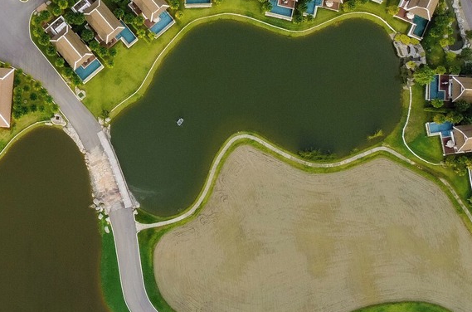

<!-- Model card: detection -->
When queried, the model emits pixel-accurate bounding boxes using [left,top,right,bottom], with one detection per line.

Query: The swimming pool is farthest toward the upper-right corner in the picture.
[406,13,432,39]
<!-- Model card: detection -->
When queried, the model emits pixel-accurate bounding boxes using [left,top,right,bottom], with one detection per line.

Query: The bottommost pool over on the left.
[76,58,105,84]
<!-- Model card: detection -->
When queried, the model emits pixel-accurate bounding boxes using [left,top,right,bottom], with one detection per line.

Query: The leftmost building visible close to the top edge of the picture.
[41,16,98,70]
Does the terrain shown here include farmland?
Yes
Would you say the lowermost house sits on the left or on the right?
right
